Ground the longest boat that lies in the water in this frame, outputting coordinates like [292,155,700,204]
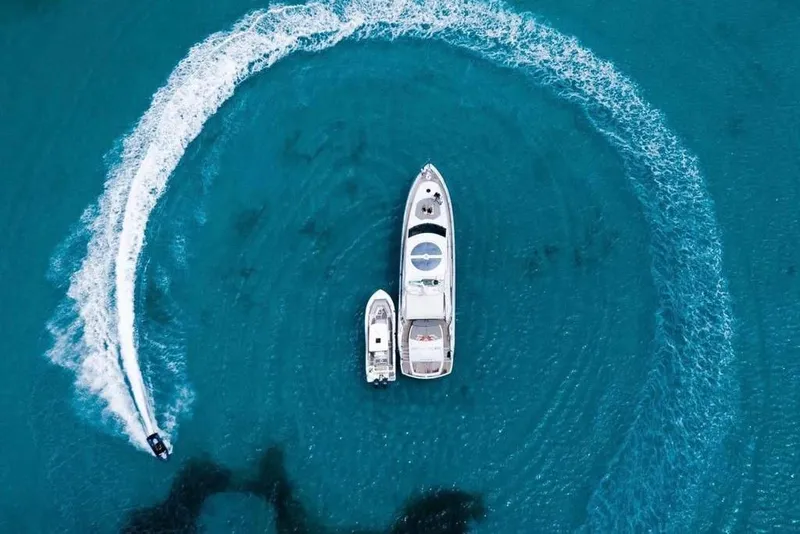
[399,162,455,379]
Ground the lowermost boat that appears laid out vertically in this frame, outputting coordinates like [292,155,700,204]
[365,289,396,385]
